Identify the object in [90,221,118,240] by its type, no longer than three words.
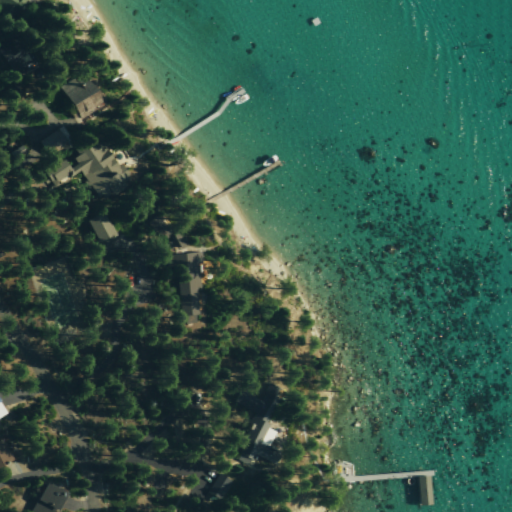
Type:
house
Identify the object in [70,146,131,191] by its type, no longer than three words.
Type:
house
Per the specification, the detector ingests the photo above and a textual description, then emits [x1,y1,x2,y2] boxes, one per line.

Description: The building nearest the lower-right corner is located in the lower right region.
[418,476,434,506]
